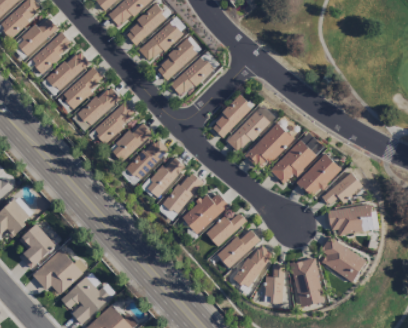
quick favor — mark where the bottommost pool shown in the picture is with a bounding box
[126,302,145,322]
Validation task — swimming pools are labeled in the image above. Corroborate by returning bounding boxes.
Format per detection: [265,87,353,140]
[126,302,145,322]
[21,186,36,207]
